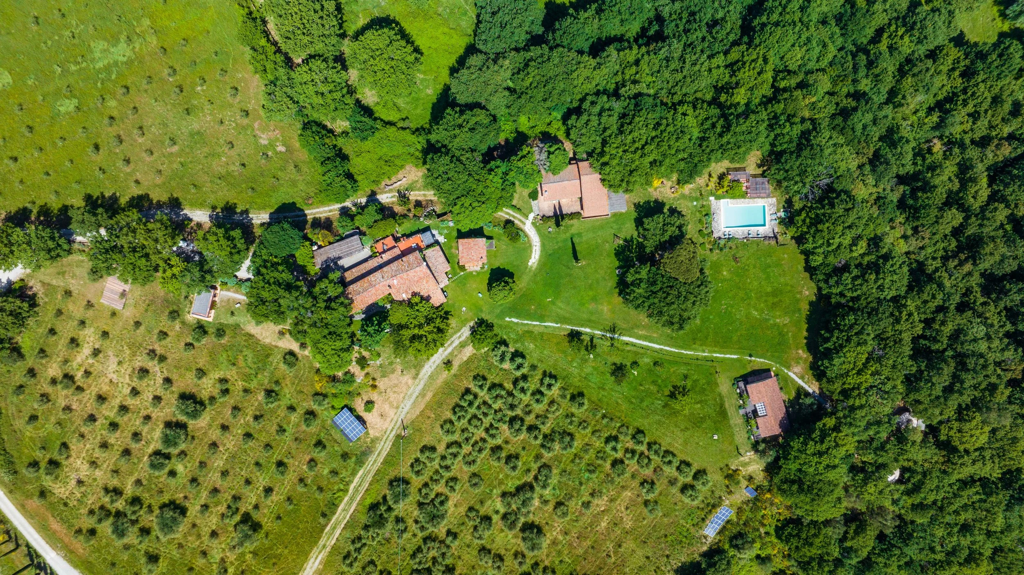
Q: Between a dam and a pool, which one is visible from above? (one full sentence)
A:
There is a pool in the scene.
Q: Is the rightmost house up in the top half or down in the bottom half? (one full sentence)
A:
The rightmost house is in the bottom half of the image.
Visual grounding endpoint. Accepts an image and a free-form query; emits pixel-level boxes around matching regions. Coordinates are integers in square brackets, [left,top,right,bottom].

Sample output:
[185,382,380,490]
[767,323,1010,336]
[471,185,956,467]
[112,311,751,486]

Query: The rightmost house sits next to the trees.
[736,371,791,440]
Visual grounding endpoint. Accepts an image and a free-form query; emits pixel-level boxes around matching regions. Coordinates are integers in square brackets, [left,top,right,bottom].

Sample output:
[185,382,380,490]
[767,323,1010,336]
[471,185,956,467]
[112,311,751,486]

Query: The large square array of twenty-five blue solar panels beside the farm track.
[332,408,367,443]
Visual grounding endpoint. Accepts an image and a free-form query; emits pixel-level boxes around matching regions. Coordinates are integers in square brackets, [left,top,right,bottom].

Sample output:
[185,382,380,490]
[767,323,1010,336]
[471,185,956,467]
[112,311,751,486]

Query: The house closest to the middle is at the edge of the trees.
[458,238,494,271]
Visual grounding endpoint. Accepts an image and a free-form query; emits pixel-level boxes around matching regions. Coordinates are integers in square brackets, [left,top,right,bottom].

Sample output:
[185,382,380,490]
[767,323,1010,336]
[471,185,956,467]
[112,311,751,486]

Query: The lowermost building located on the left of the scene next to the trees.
[189,285,220,321]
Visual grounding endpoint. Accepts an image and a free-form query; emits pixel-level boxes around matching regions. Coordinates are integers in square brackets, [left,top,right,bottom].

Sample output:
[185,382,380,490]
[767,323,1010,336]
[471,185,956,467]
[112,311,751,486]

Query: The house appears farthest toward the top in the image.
[531,160,627,219]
